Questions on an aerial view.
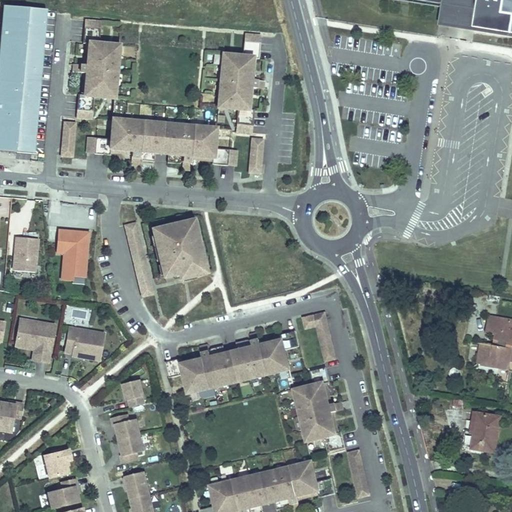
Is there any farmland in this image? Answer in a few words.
No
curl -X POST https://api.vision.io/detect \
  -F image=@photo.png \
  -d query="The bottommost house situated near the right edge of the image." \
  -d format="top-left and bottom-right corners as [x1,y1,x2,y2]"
[470,410,502,454]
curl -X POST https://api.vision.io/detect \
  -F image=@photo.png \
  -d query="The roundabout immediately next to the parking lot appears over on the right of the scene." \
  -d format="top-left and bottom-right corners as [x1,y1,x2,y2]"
[282,182,370,258]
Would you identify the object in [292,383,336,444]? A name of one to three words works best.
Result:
house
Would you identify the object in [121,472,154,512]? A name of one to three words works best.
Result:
house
